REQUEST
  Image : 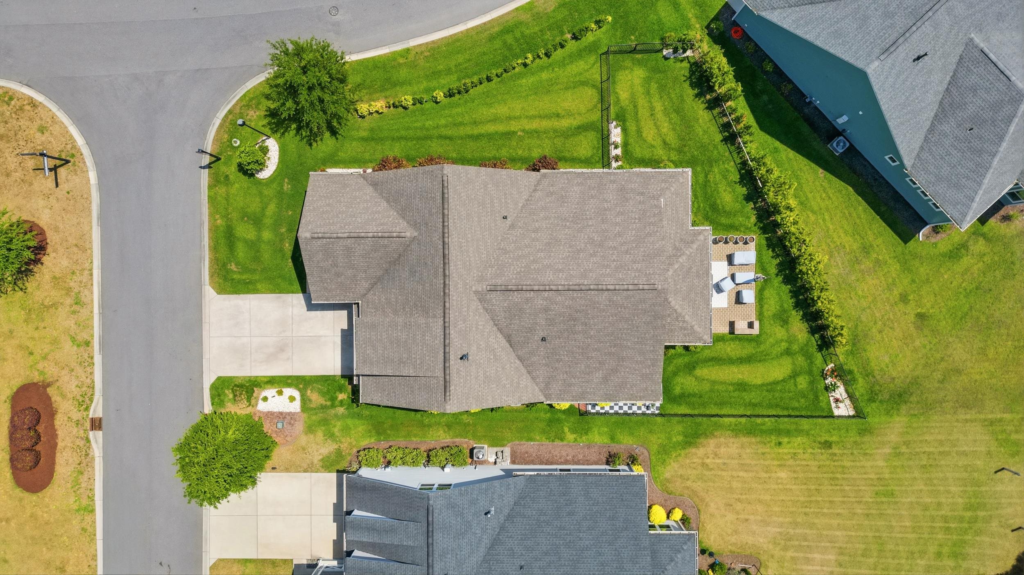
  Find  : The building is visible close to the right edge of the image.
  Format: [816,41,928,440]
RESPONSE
[730,0,1024,234]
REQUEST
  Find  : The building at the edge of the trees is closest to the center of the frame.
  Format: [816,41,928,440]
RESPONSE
[299,165,714,413]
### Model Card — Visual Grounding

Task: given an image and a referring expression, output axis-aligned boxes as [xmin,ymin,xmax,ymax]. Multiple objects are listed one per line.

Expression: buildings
[342,464,700,575]
[299,165,714,413]
[730,0,1024,234]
